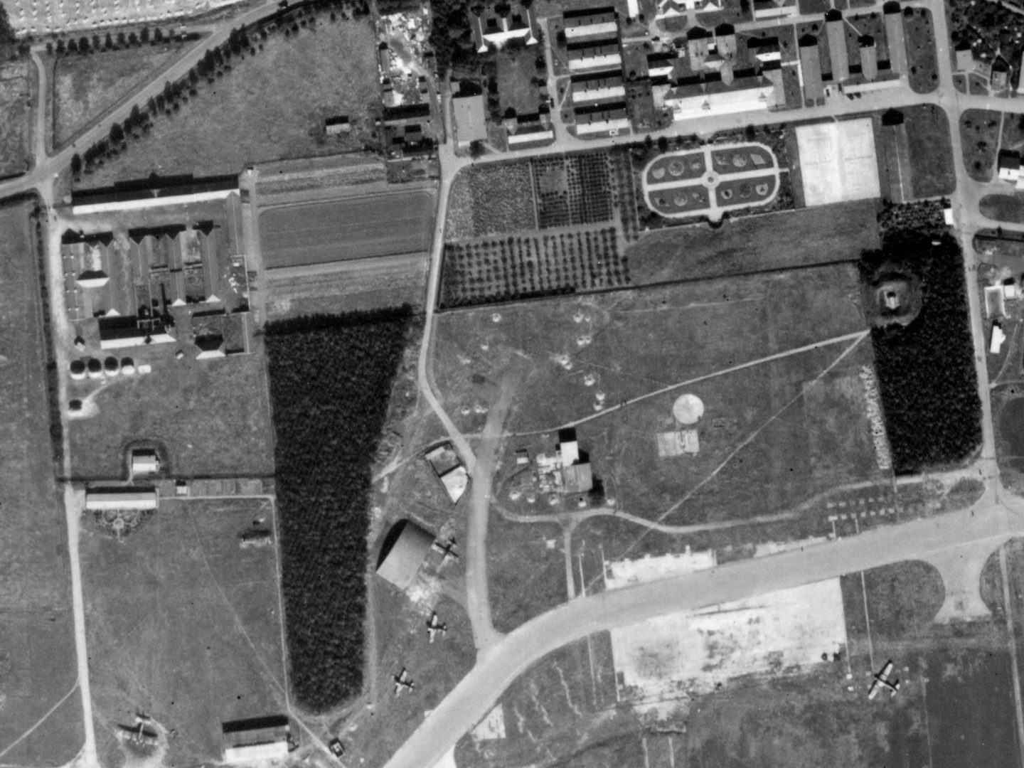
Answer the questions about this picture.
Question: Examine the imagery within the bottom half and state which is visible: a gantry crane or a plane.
plane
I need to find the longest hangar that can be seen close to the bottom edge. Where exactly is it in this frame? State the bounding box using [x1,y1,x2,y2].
[222,725,291,763]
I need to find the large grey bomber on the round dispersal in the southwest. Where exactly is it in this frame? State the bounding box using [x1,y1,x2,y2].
[119,718,158,745]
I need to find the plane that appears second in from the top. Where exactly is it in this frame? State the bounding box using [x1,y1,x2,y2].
[427,612,449,640]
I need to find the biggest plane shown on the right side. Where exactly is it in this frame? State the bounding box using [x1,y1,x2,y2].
[869,664,901,699]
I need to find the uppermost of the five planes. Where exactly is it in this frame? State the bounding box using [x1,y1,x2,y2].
[435,538,459,561]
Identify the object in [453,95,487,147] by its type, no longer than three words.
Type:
building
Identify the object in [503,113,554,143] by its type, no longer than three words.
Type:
house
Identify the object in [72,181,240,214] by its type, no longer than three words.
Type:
barn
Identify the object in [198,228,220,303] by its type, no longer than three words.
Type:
building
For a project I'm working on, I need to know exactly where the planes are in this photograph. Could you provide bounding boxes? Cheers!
[393,668,417,695]
[427,612,449,640]
[869,664,901,699]
[435,538,459,561]
[119,718,158,745]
